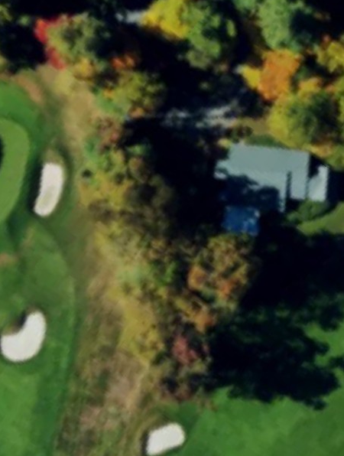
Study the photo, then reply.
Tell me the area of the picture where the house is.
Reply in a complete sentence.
The house sits in the right section of the image.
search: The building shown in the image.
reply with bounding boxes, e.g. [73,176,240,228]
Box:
[219,140,330,236]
